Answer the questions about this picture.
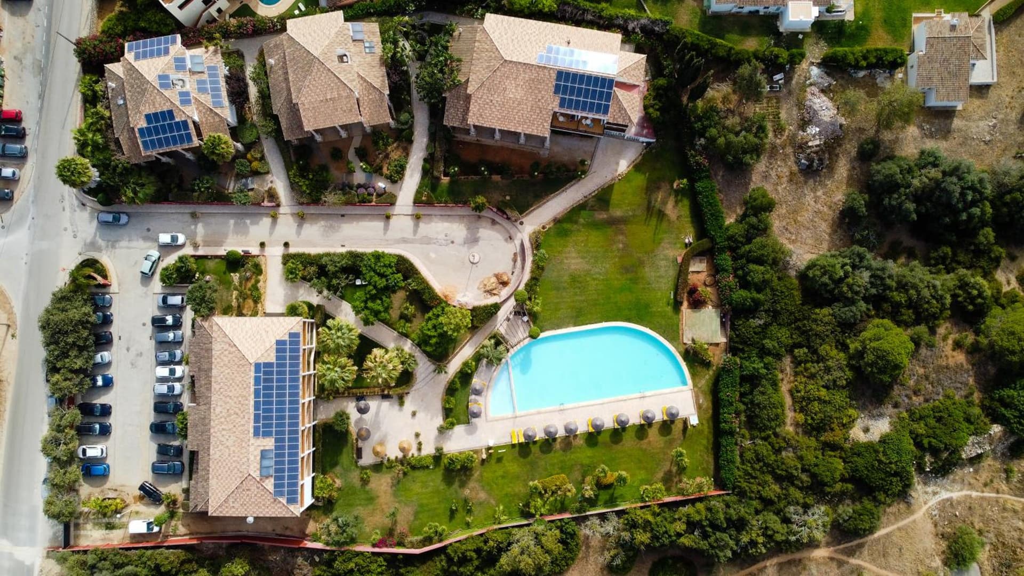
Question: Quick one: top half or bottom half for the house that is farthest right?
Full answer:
The house that is farthest right sits in the top half of the picture.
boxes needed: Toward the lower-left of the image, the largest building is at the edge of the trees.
[186,316,327,524]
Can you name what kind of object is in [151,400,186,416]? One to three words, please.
car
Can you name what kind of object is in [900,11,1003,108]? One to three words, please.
house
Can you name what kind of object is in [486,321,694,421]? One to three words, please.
swimming pool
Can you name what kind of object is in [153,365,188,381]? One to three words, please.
car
